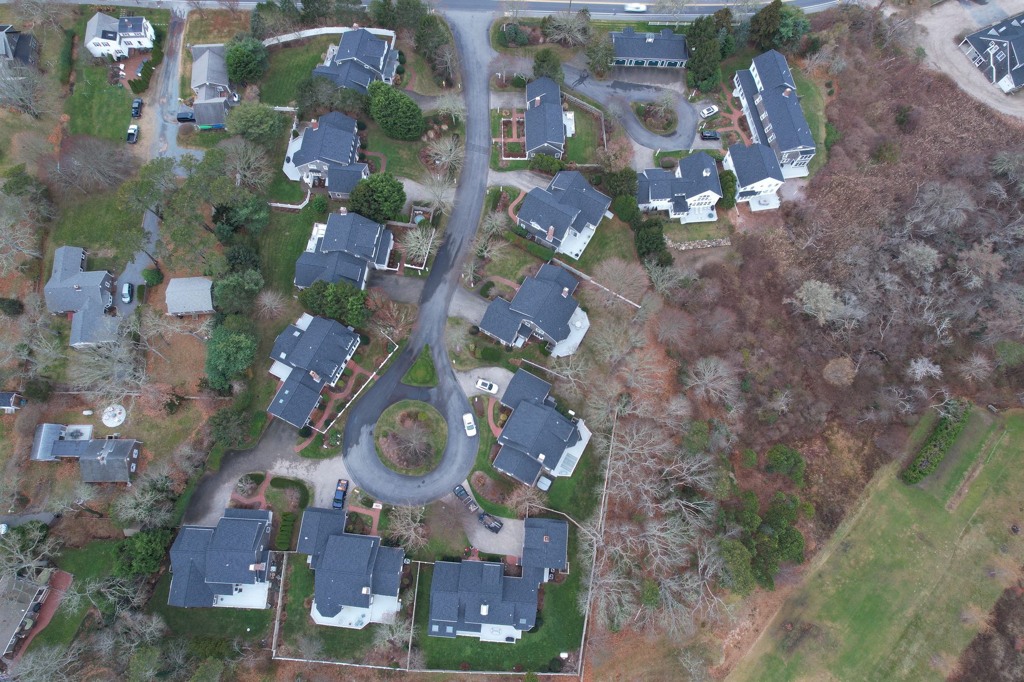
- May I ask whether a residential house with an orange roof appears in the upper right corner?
No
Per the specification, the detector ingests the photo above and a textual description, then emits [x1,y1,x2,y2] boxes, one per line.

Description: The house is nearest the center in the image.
[479,263,591,359]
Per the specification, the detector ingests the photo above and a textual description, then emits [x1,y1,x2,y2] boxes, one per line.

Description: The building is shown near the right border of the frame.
[959,12,1024,101]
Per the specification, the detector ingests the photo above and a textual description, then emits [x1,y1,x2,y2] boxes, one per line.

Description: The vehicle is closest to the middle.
[474,379,499,394]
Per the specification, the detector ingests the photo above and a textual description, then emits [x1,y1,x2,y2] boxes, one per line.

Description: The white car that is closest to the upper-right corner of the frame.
[699,105,720,119]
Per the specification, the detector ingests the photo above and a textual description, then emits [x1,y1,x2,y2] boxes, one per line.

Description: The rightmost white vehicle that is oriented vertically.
[464,412,476,438]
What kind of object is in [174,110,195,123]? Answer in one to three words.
vehicle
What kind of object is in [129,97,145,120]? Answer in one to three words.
vehicle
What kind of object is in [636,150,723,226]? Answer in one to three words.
house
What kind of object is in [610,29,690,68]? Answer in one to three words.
building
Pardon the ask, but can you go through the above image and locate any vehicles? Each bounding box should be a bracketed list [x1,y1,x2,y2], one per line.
[464,412,476,438]
[699,105,720,119]
[699,129,722,141]
[123,122,141,146]
[452,481,480,516]
[474,379,499,394]
[119,281,134,305]
[174,110,195,123]
[129,97,145,120]
[331,477,349,508]
[624,2,645,13]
